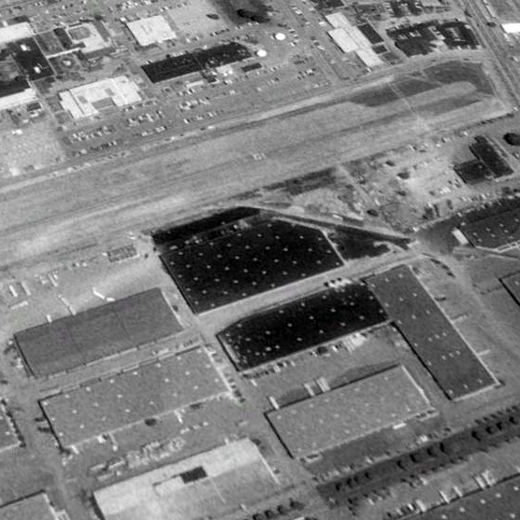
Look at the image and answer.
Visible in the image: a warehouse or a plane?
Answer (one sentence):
The one in the frame is a warehouse.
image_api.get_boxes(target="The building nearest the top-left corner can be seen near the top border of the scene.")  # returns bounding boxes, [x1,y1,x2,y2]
[0,21,35,45]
